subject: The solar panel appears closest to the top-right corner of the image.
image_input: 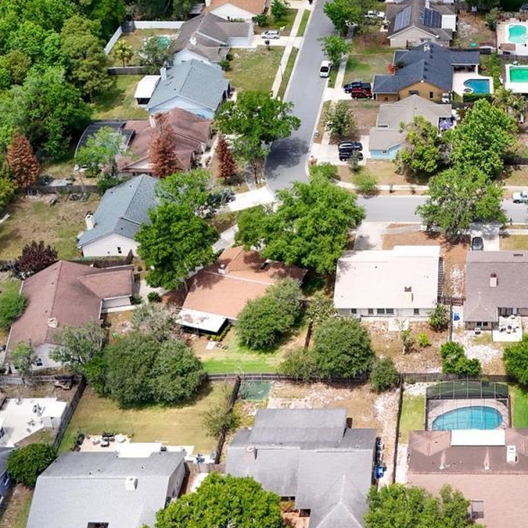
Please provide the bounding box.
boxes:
[422,8,440,26]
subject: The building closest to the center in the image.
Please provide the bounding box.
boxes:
[175,248,297,344]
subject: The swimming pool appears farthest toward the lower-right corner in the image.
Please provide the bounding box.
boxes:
[427,399,510,433]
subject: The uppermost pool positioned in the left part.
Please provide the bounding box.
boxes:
[139,33,175,61]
